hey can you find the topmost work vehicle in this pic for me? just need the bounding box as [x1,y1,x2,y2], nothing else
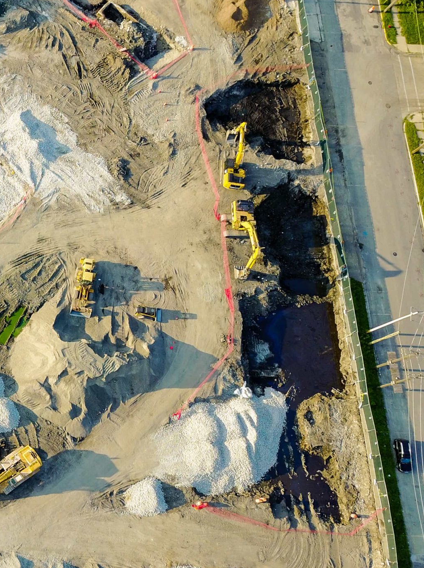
[220,124,249,195]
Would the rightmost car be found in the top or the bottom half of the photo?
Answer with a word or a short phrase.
bottom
